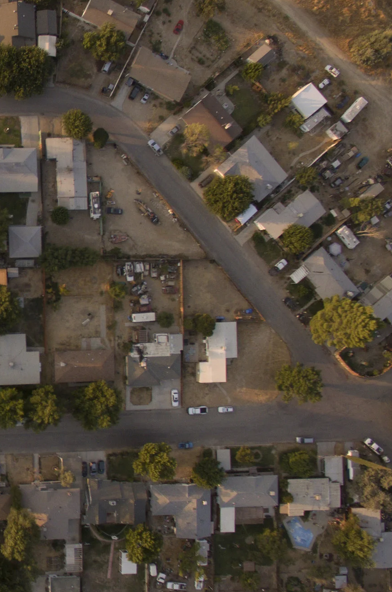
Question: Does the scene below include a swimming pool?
Yes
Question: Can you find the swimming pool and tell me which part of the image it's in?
bottom right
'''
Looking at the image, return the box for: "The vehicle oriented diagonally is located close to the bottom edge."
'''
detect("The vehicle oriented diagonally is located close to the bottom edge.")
[153,569,168,585]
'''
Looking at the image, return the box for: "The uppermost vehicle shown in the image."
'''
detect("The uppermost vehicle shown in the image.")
[172,19,184,36]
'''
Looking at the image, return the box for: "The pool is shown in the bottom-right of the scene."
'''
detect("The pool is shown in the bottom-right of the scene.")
[285,516,316,550]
